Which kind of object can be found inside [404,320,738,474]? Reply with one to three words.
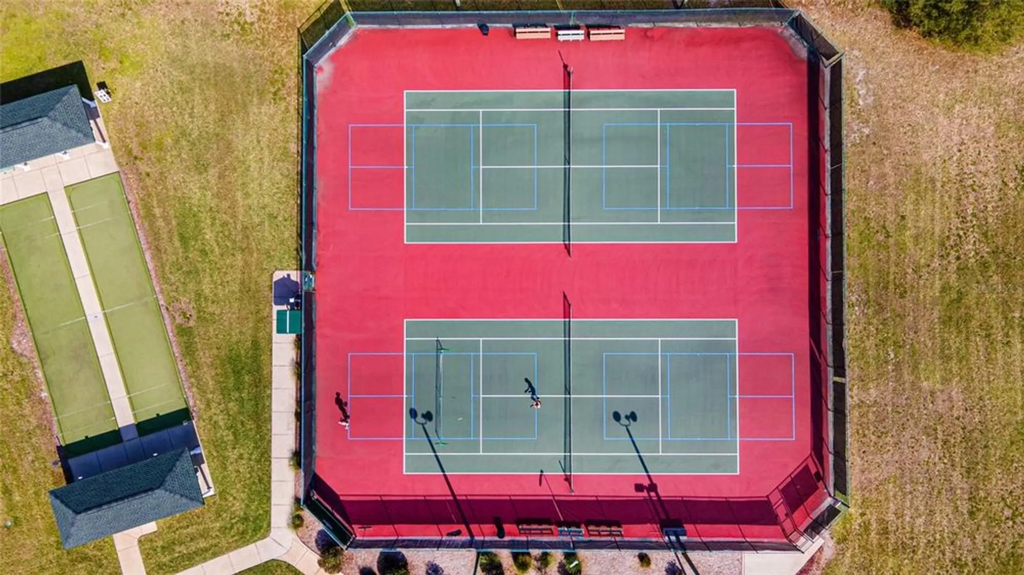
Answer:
tennis court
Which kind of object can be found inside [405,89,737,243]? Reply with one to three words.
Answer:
tennis court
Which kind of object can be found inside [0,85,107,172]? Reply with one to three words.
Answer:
building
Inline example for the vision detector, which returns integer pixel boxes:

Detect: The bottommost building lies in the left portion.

[48,447,213,548]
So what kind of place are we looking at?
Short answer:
sports ground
